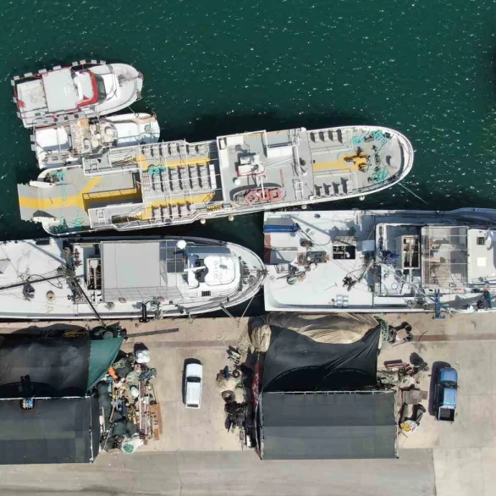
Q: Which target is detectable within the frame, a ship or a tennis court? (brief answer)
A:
ship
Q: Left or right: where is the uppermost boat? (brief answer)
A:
left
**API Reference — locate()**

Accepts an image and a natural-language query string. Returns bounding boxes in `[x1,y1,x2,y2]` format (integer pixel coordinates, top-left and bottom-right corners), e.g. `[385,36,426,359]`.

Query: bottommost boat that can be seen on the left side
[0,237,270,325]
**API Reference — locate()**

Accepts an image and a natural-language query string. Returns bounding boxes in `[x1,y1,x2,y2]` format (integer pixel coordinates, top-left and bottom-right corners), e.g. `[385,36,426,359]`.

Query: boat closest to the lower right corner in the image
[263,207,496,320]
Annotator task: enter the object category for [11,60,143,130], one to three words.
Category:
boat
